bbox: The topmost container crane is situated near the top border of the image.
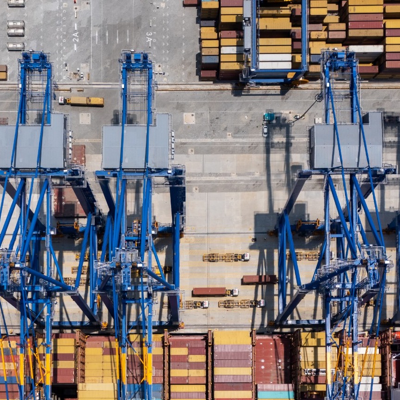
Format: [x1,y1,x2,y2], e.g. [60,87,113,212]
[241,0,319,94]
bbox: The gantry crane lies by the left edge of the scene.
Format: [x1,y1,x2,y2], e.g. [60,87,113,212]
[0,41,107,400]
